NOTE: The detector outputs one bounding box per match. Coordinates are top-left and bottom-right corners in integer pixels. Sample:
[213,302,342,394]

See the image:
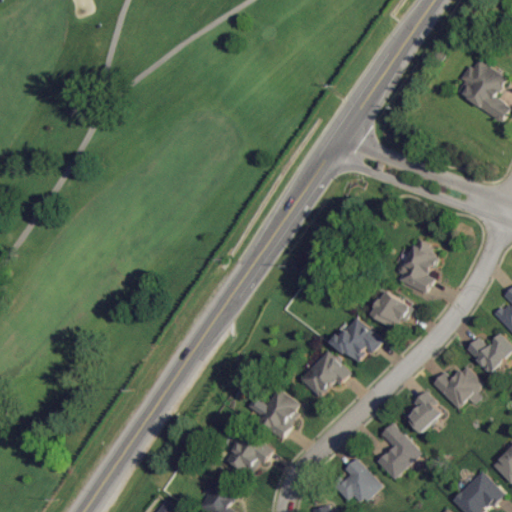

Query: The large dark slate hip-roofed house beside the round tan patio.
[452,472,508,512]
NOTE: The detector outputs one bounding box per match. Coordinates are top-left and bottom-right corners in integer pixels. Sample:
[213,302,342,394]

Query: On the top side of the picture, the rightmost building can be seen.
[458,63,512,122]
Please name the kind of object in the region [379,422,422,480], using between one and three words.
house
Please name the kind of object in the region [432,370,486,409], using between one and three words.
house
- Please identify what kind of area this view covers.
golf course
